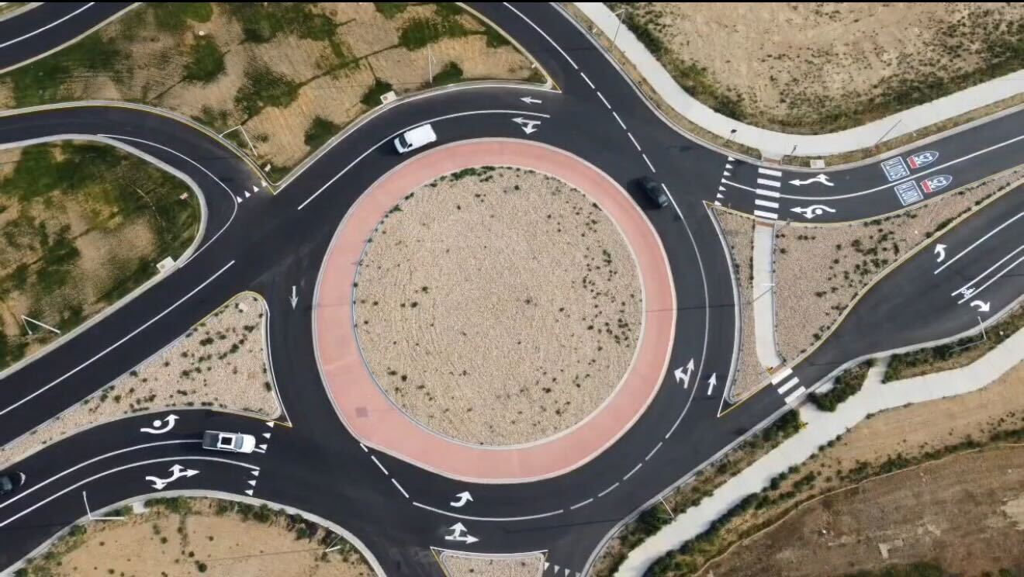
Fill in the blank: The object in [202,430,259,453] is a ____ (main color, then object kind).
white truck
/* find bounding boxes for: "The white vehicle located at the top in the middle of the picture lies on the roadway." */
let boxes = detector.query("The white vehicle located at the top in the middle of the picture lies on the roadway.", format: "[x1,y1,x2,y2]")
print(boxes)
[396,124,437,155]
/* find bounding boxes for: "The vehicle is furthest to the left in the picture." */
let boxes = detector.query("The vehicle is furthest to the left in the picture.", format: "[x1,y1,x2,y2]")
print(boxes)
[0,470,31,502]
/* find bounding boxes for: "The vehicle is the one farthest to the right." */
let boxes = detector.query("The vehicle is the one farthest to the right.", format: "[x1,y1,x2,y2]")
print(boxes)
[636,175,670,210]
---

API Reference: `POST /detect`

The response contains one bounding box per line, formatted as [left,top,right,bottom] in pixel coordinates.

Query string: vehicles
[636,175,670,210]
[0,470,31,502]
[396,124,437,155]
[202,430,259,453]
